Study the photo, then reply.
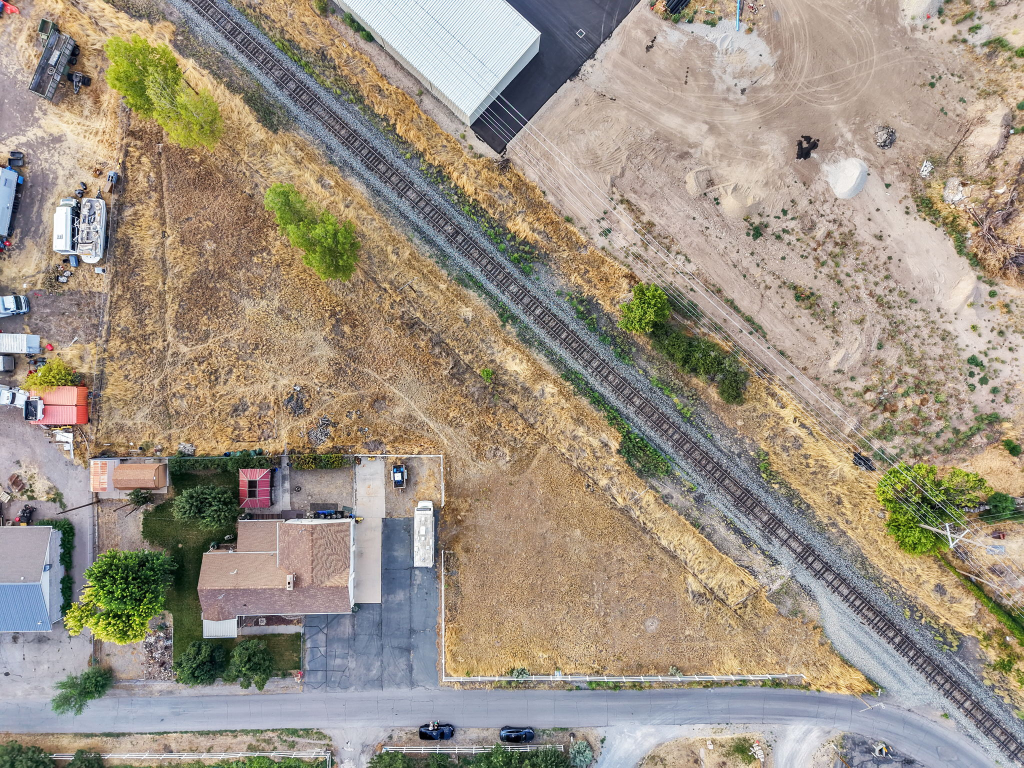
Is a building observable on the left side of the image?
Yes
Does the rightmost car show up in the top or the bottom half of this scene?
bottom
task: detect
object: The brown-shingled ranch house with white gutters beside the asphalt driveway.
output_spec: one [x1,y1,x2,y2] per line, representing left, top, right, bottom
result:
[198,516,358,639]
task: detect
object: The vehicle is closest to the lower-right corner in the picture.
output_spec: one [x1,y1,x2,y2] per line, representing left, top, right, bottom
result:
[500,724,534,744]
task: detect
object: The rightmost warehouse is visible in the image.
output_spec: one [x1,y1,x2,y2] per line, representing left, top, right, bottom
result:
[334,0,543,126]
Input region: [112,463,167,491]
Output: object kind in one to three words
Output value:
shed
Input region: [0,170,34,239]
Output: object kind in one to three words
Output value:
trailer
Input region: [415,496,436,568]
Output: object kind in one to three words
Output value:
camper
